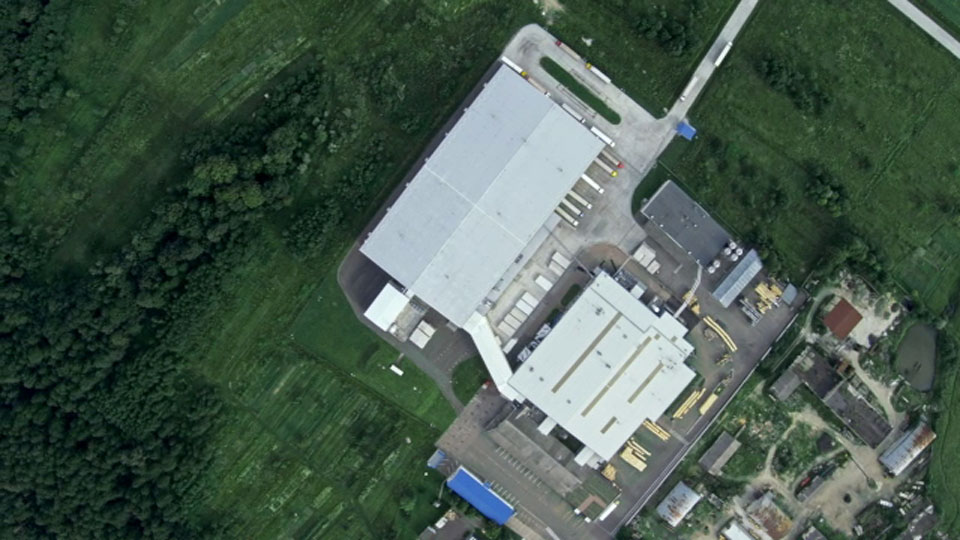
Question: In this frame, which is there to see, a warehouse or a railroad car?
warehouse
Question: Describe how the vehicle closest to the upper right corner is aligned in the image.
on a diagonal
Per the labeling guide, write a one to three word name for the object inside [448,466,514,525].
building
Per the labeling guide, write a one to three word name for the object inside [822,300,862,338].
house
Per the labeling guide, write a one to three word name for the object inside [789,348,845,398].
barn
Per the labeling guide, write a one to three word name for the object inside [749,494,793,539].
shed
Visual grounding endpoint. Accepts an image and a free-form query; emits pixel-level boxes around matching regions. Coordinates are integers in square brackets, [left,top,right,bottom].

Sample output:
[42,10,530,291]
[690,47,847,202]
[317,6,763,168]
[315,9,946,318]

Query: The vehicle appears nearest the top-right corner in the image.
[713,41,734,67]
